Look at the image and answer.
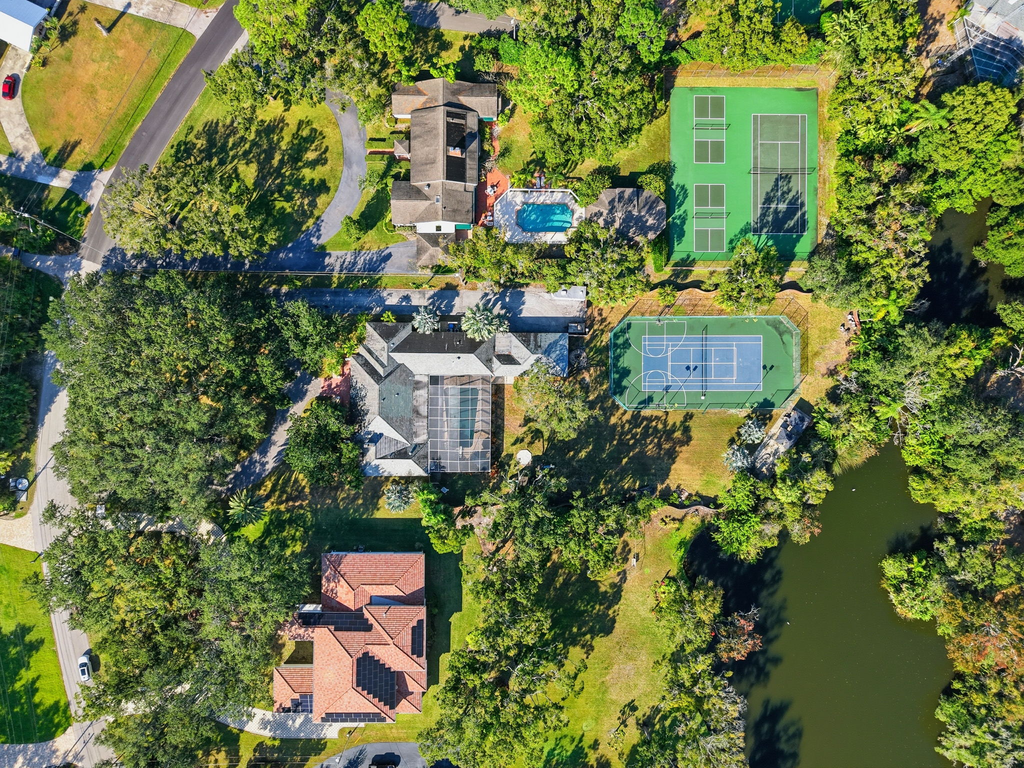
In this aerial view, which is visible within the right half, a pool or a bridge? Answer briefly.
pool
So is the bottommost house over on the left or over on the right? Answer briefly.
left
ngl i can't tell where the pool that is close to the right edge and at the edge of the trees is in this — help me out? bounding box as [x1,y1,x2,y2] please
[955,16,1024,89]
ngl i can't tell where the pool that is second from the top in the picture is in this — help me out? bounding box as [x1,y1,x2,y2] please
[494,191,585,244]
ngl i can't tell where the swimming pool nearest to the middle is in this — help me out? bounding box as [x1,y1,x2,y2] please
[429,375,491,473]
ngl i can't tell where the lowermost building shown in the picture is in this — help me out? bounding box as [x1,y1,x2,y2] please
[273,550,428,723]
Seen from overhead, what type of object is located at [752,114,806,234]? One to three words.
tennis court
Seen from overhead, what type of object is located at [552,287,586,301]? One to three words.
shed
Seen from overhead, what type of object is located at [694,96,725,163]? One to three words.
sports court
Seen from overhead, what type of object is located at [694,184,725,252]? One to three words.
sports court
